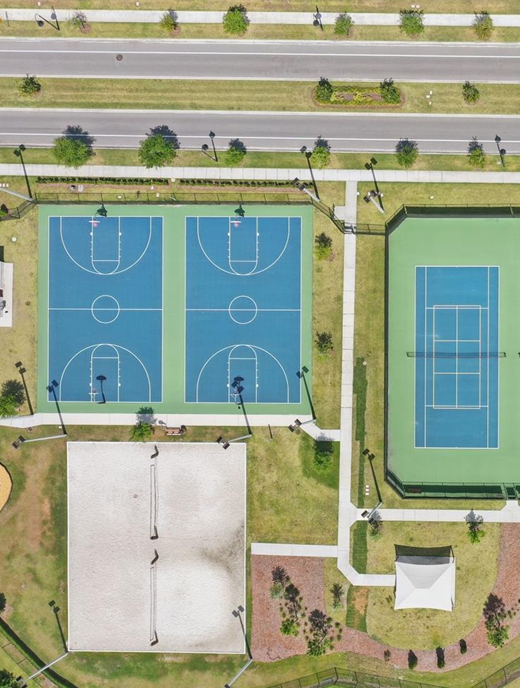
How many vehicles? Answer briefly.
0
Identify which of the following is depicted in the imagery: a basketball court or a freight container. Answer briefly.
basketball court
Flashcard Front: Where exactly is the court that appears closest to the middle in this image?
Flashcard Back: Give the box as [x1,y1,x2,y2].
[174,204,312,414]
